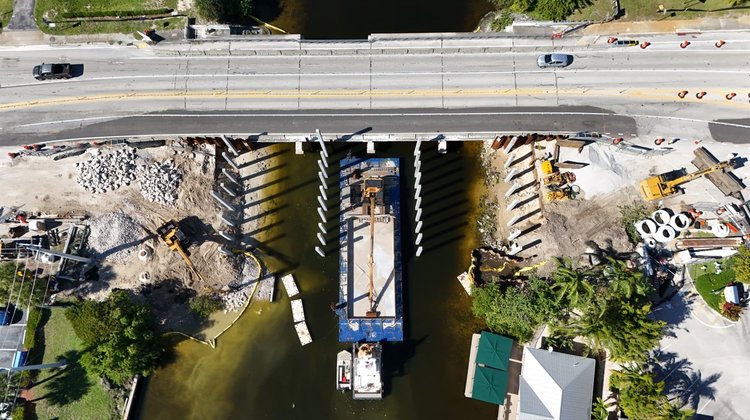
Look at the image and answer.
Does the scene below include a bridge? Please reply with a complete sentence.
Yes, you can see a bridge in this photo.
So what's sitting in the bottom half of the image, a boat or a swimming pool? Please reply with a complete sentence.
The one visible in the bottom half of the image is a boat.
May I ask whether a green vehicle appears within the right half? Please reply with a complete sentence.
No, the scene shows no green vehicle within the right half.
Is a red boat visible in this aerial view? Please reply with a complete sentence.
No, no red boat is visible in the scene.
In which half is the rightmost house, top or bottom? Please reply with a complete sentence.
The rightmost house is in the bottom half of the image.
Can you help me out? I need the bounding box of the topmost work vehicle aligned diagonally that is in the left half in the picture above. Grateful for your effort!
[153,217,202,281]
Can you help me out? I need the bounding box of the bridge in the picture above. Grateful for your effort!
[152,33,604,155]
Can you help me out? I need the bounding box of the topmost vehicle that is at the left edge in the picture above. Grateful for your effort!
[31,61,71,78]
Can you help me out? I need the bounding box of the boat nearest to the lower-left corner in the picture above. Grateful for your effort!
[336,351,352,395]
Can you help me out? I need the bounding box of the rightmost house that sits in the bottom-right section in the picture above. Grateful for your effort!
[515,347,596,420]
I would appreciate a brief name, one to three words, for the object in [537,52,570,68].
car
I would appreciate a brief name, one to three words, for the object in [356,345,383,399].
boat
